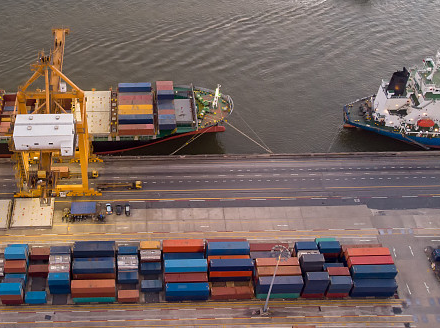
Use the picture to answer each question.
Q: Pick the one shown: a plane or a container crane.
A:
container crane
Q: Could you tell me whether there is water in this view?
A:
Yes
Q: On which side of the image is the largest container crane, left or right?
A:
left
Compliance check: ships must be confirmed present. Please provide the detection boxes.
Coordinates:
[335,44,440,149]
[0,82,234,157]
